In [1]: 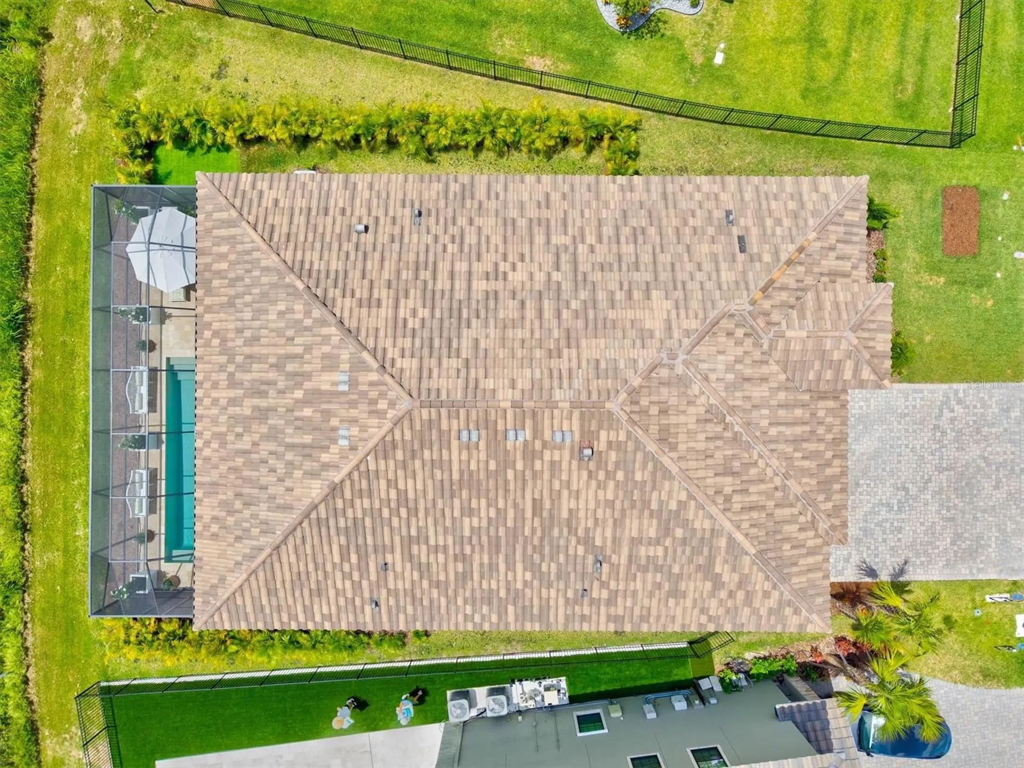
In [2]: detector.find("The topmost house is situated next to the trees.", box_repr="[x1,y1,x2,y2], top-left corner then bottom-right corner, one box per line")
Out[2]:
[191,170,896,636]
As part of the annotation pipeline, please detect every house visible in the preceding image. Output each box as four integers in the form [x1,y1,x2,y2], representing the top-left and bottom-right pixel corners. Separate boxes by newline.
[436,674,876,768]
[191,170,896,636]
